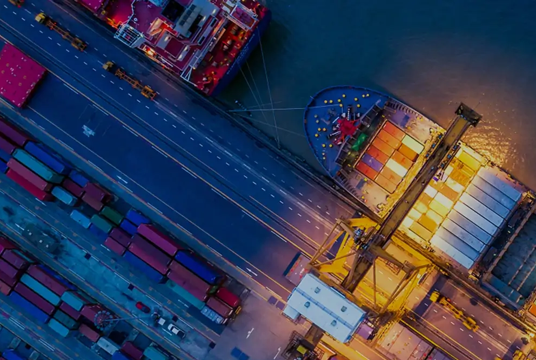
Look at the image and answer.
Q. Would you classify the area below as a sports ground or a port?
port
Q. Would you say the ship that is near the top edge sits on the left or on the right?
left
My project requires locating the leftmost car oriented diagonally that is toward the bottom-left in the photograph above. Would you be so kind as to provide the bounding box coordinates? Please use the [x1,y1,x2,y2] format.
[136,300,153,315]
